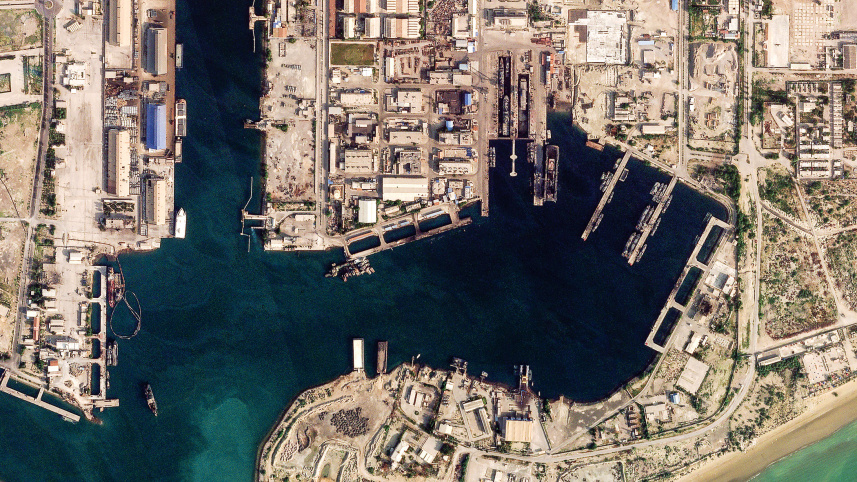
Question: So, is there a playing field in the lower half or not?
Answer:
No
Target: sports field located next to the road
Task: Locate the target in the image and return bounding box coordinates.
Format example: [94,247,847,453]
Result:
[330,42,374,66]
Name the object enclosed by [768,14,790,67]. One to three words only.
building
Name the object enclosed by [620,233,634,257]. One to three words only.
ship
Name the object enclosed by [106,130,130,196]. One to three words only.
building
